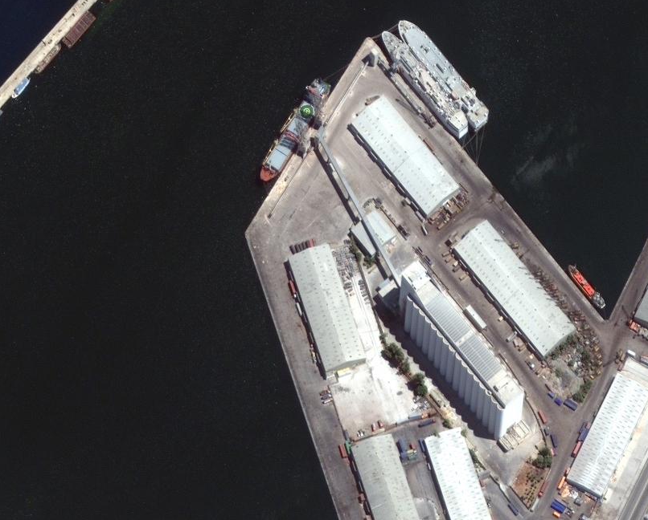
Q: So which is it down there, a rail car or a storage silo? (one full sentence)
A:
Looking from above, you can make out a storage silo.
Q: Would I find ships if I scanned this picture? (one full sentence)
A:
Yes, the frame does contain a ship.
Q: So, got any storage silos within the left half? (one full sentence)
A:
No, the scene shows no storage silo within the left half.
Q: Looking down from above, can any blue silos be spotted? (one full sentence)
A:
No, there isn't any blue silo down there.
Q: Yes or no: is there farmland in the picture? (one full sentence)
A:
No, there's no farmland in this view.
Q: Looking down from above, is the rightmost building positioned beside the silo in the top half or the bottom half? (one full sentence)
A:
Seen from above, the rightmost building positioned beside the silo lies in the bottom half of the view.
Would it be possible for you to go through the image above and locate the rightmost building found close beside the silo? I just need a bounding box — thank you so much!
[568,372,648,499]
